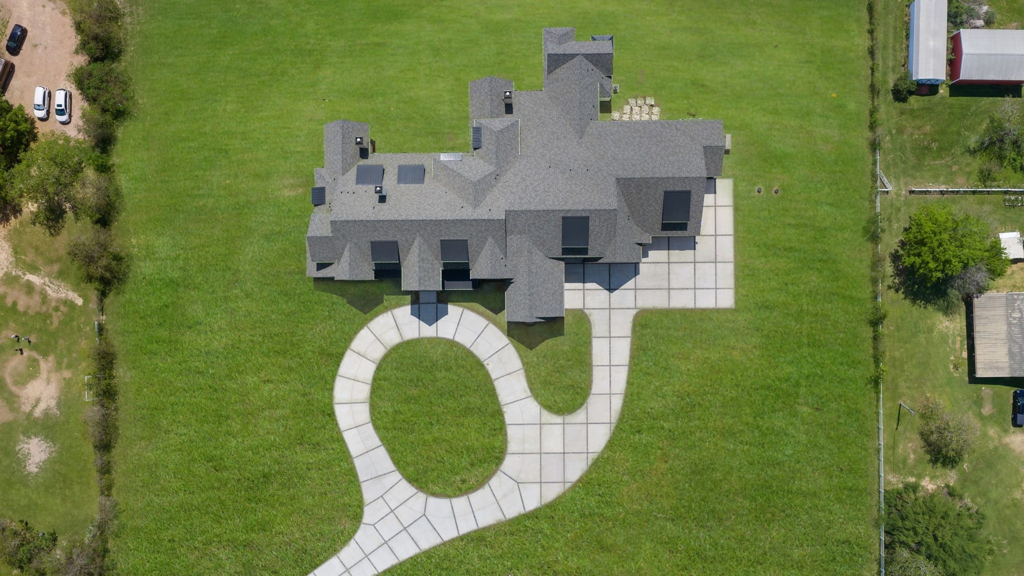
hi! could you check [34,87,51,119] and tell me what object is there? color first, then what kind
white car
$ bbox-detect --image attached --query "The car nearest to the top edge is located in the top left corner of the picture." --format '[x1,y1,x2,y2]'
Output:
[9,24,28,56]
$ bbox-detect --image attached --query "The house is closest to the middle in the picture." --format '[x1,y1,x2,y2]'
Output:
[306,27,731,323]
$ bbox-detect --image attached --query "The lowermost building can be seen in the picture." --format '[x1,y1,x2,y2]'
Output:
[966,292,1024,377]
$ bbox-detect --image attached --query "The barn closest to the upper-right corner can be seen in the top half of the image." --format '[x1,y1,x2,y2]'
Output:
[950,29,1024,82]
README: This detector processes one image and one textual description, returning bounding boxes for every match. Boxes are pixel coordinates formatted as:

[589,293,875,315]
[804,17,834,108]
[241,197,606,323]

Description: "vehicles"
[34,87,51,119]
[9,24,28,56]
[0,58,14,98]
[56,90,73,123]
[1013,389,1024,427]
